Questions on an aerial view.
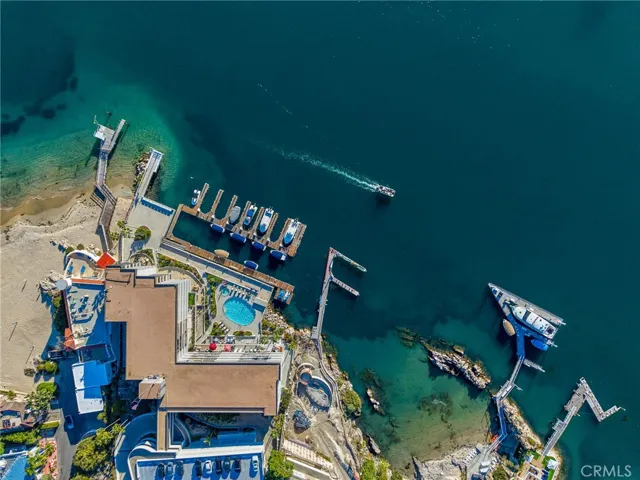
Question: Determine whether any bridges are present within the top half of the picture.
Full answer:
No, the scene shows no bridge within the top half of the picture.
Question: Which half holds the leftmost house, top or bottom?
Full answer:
The leftmost house is in the bottom half of the image.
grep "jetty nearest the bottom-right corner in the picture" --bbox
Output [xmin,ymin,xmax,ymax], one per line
[539,376,625,456]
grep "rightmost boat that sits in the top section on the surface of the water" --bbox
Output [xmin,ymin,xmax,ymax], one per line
[376,182,396,195]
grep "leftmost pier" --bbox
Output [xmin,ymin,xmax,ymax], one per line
[93,115,129,252]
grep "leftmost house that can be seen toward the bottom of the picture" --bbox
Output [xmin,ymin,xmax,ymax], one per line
[0,398,35,430]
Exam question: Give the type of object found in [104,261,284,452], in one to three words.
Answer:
building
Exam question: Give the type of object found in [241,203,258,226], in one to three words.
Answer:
boat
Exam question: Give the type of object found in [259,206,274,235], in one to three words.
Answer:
boat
